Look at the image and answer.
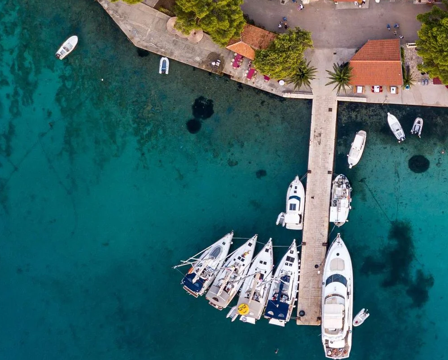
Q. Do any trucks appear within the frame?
No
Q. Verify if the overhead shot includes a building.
Yes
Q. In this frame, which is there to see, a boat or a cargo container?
boat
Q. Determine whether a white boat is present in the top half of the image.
Yes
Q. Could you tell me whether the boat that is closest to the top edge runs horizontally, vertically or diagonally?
diagonally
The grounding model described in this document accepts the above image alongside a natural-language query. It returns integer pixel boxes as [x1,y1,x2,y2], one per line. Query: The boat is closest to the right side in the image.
[410,116,423,138]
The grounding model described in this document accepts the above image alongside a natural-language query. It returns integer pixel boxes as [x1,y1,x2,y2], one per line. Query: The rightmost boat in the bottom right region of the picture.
[352,307,371,328]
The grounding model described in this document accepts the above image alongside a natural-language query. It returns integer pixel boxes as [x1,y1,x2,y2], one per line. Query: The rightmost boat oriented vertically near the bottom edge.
[321,232,353,360]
